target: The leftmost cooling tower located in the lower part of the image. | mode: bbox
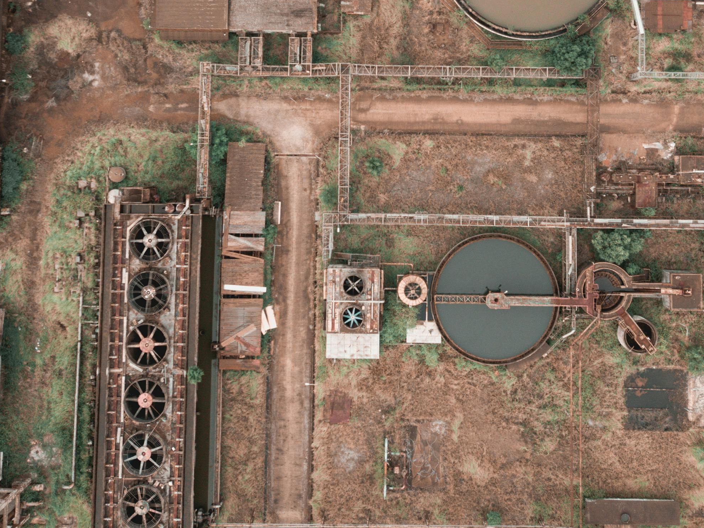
[93,197,203,528]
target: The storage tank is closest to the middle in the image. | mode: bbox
[428,235,562,365]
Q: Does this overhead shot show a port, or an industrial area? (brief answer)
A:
industrial area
